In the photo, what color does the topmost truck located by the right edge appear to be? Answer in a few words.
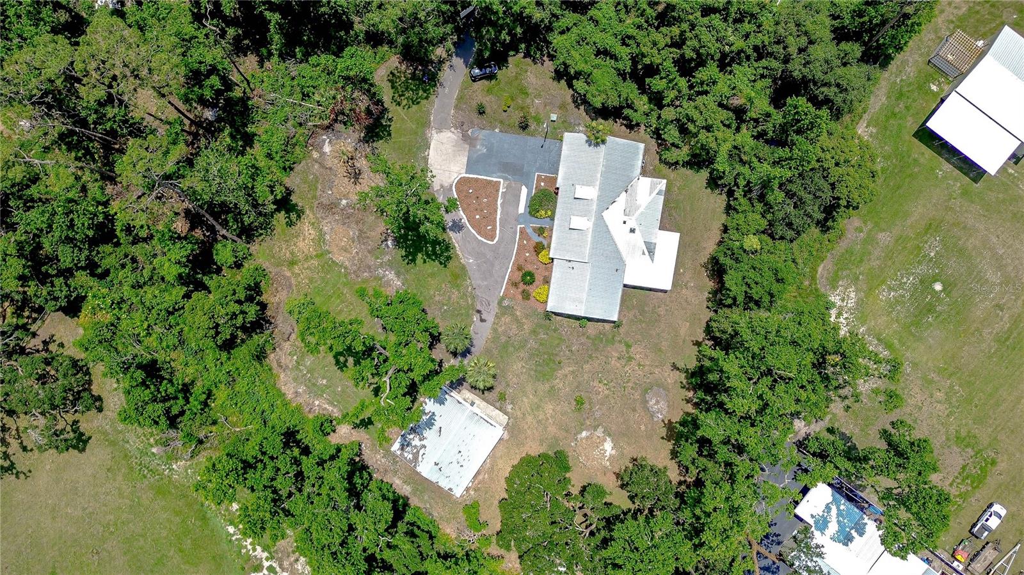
white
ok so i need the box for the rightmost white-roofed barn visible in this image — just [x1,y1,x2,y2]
[910,25,1024,175]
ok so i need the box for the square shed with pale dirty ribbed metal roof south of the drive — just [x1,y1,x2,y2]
[391,385,506,498]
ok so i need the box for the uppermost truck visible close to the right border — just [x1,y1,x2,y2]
[972,502,1005,541]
